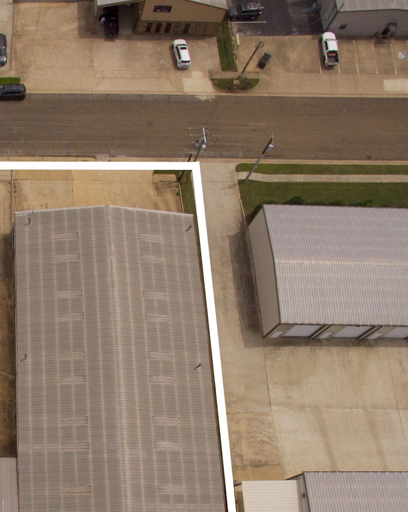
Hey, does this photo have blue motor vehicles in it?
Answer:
No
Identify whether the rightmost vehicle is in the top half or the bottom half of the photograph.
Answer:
top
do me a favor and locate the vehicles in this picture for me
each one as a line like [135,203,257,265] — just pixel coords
[172,40,191,69]
[0,83,27,101]
[0,33,8,66]
[99,5,121,37]
[319,31,340,68]
[227,1,263,20]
